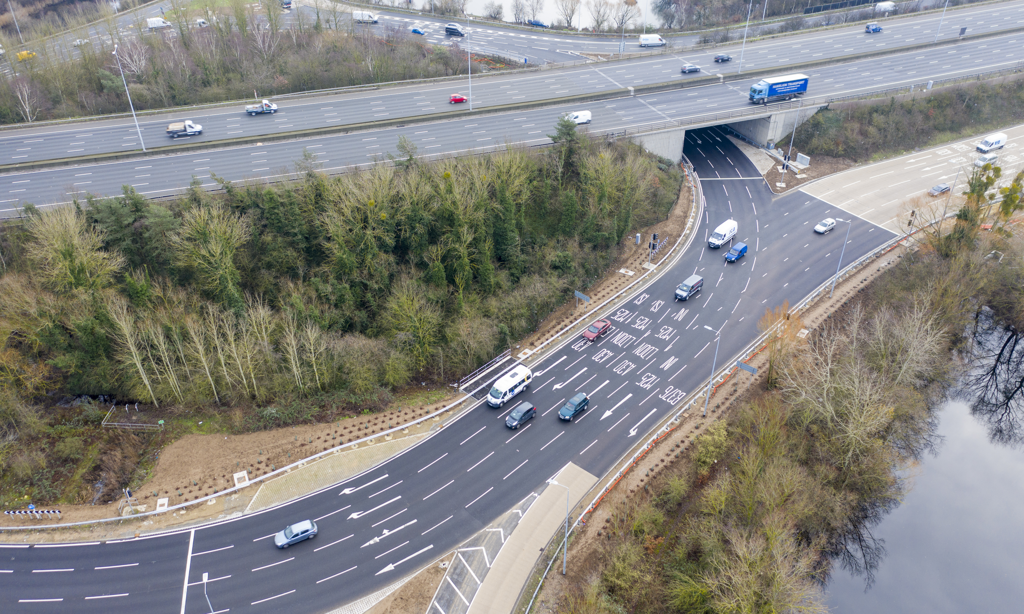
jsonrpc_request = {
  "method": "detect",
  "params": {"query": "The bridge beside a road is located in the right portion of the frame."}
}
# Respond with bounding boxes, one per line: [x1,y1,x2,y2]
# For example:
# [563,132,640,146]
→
[542,47,836,166]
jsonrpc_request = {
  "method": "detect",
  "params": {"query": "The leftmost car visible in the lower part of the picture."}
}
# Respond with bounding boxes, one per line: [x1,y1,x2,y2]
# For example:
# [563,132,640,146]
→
[272,517,320,549]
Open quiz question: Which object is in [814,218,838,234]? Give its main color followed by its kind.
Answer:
white car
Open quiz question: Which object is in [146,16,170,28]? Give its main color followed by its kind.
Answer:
white vehicle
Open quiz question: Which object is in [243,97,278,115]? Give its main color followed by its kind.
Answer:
white vehicle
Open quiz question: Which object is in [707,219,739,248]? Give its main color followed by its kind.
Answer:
white van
